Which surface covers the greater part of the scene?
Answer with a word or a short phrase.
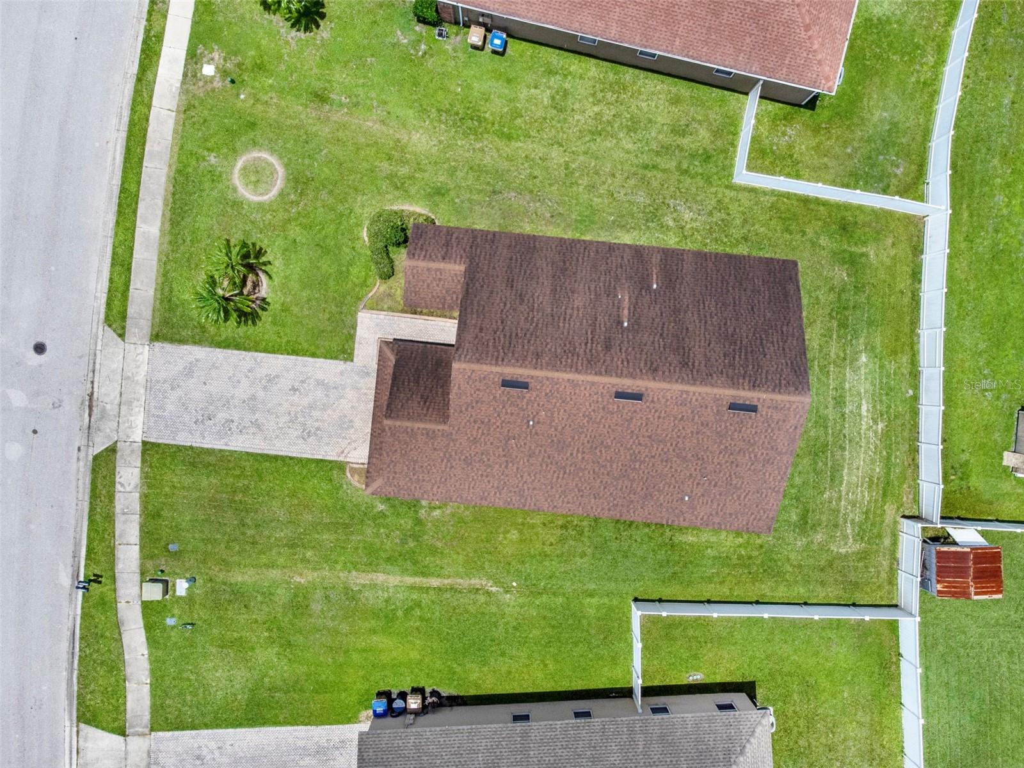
grass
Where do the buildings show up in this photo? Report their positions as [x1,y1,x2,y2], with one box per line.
[363,223,810,534]
[431,0,854,109]
[920,540,1004,600]
[356,693,772,768]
